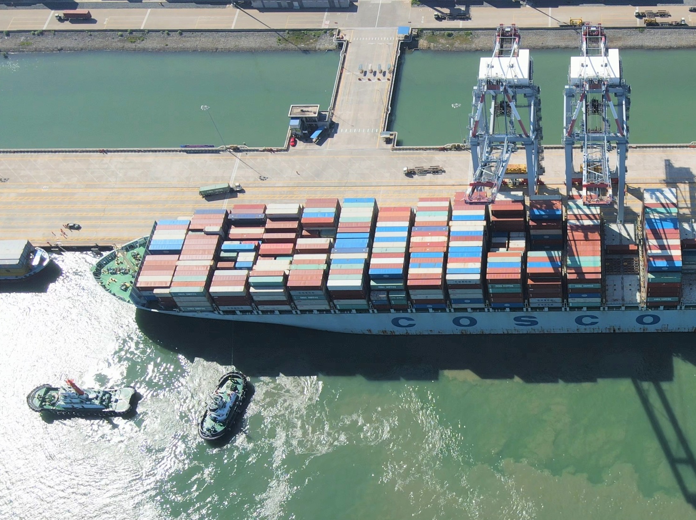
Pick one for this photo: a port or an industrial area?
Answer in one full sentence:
The area seen from above is a port.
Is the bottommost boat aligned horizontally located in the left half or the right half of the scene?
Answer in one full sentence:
The bottommost boat aligned horizontally sits on the left side.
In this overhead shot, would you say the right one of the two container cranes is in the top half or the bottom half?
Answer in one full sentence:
The right one of the two container cranes is in the top half of the image.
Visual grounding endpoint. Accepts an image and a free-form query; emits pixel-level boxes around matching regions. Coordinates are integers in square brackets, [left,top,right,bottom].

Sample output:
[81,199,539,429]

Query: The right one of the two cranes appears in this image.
[558,17,637,221]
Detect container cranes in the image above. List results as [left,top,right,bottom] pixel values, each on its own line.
[464,18,555,202]
[558,17,637,221]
